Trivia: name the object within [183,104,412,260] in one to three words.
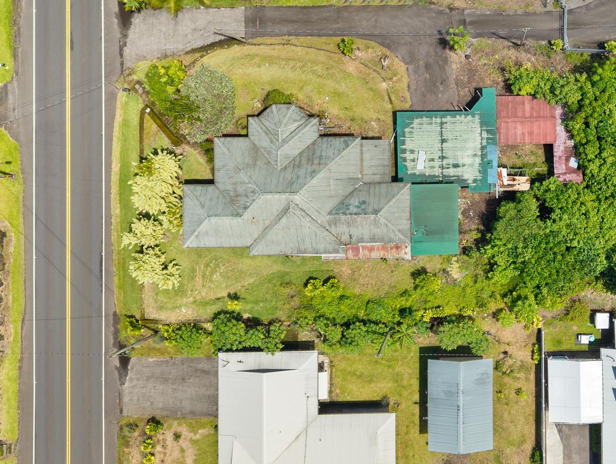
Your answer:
house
